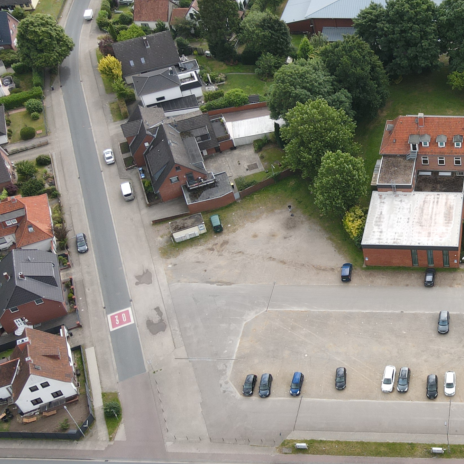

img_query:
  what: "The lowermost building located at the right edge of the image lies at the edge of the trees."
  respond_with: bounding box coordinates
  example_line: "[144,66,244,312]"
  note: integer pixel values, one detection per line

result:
[362,114,464,269]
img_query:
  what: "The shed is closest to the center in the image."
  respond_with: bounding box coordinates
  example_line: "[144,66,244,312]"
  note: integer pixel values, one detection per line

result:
[172,213,210,240]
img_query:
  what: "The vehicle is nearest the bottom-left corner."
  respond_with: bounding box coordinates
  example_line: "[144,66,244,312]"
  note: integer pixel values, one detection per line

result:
[76,233,89,253]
